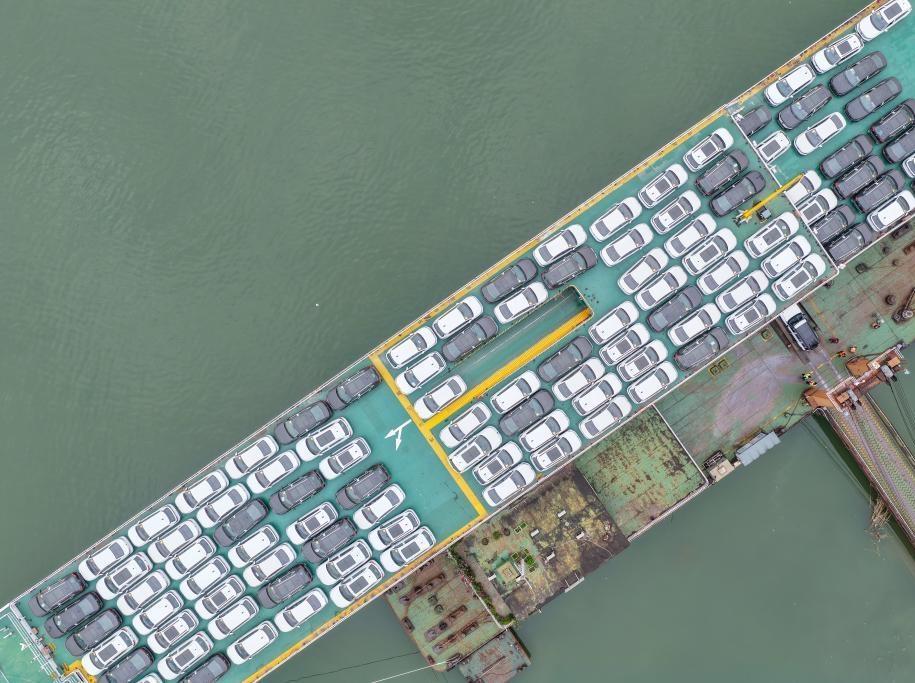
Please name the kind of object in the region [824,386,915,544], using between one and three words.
bridge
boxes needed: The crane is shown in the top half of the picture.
[729,176,804,229]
